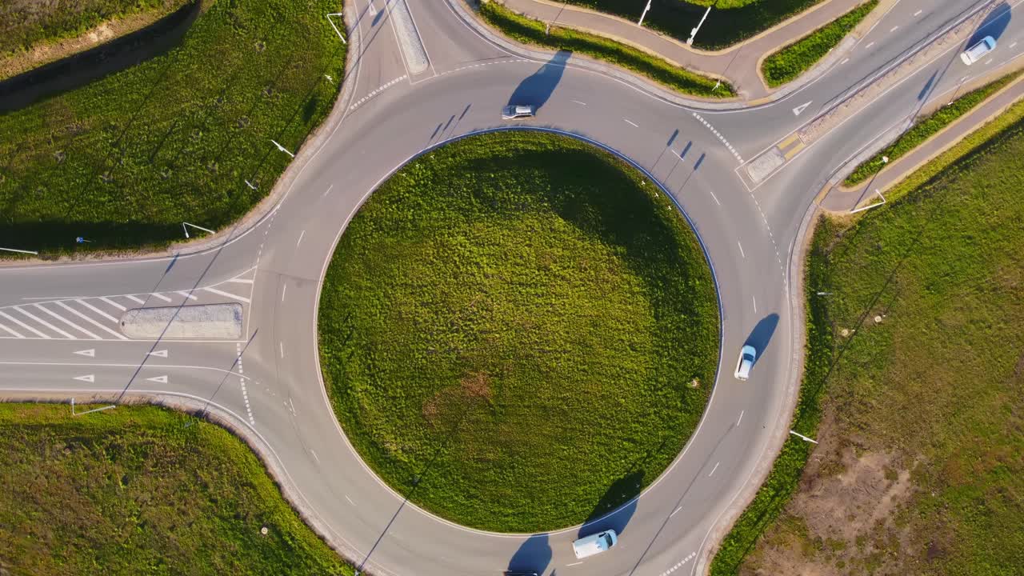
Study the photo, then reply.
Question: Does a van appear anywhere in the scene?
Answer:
Yes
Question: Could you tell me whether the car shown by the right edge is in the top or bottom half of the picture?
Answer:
top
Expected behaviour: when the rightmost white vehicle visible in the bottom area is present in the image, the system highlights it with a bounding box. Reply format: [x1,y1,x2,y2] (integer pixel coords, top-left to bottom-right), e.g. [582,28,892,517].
[733,344,755,380]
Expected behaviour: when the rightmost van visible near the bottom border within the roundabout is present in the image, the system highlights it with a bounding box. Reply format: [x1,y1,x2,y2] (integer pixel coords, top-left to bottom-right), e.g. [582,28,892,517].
[571,529,616,559]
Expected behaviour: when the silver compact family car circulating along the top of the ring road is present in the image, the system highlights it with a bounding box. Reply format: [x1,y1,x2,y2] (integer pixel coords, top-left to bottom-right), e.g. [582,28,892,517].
[503,103,536,121]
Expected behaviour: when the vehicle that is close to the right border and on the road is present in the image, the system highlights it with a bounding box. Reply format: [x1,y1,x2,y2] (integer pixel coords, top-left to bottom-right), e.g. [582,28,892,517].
[958,36,996,65]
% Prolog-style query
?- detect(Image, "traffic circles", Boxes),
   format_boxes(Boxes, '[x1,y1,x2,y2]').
[228,54,792,576]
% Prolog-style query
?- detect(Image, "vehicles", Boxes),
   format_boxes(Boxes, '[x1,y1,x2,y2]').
[958,36,996,65]
[571,529,616,559]
[503,570,539,576]
[503,103,536,121]
[733,344,755,380]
